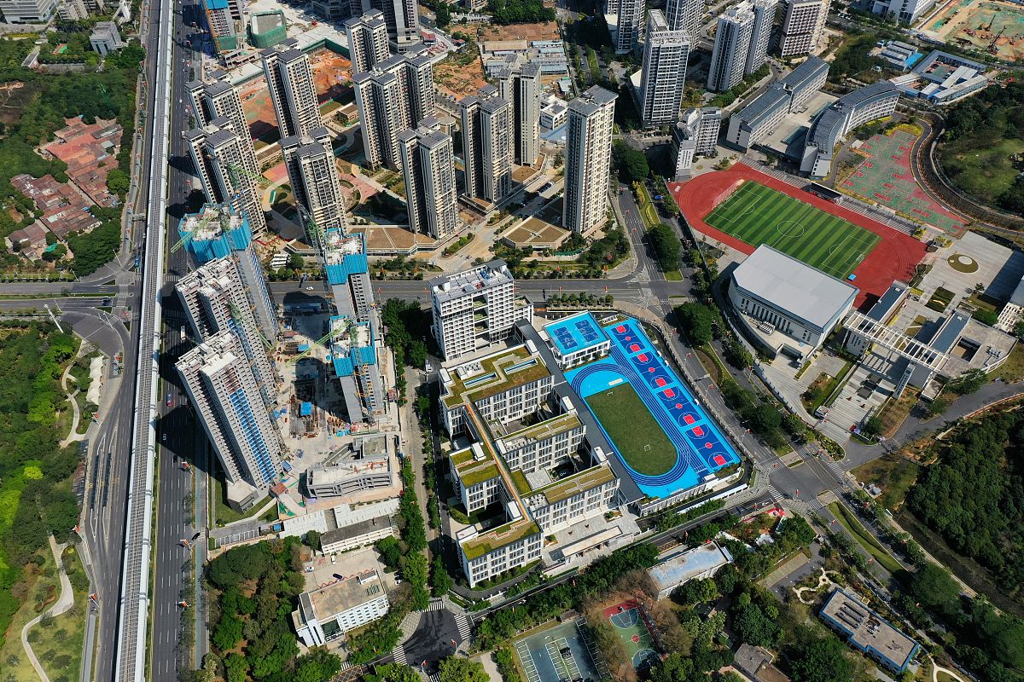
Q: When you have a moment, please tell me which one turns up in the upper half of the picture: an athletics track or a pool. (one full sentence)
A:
The one visible in the upper half of the picture is an athletics track.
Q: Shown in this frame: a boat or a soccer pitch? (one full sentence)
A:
The image shows a soccer pitch.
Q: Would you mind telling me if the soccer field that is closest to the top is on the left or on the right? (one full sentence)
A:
It is on the right.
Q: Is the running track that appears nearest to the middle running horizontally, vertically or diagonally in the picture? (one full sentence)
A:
In this picture, the running track that appears nearest to the middle lies diagonally.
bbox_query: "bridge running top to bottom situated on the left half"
[113,0,174,682]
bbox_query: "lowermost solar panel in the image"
[441,275,504,301]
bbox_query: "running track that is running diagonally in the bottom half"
[572,342,703,483]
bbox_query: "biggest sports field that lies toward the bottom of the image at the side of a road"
[563,315,744,508]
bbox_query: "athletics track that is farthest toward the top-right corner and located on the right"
[668,161,927,314]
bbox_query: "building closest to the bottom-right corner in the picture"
[819,589,919,674]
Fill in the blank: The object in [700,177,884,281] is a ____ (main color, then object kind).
green soccer field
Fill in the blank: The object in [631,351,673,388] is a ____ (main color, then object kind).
blue basketball court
